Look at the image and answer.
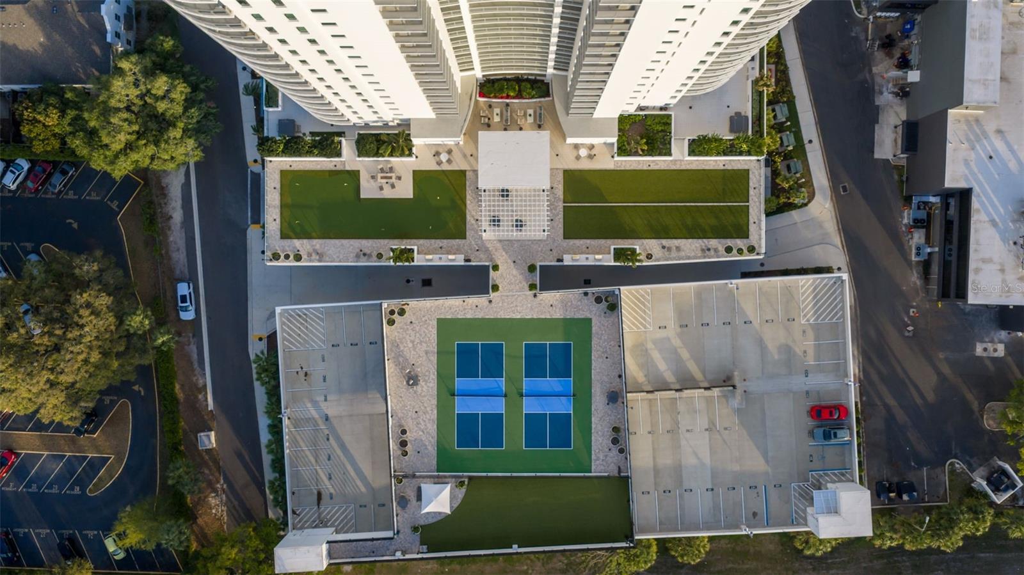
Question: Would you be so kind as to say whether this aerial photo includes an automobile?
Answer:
Yes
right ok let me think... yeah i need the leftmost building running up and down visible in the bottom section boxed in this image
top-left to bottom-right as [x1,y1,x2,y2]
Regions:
[276,299,394,536]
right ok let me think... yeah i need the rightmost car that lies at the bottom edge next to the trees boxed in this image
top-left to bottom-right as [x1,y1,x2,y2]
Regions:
[103,530,129,563]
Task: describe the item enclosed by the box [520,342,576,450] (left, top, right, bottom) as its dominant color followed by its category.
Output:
blue sports court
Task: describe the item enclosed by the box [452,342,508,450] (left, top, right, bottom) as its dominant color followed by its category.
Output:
blue sports court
